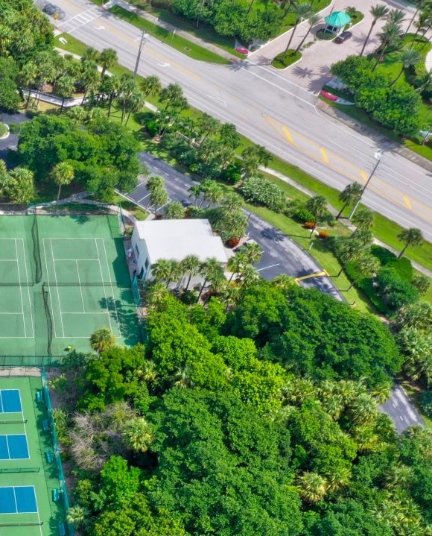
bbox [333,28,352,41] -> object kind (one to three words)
vehicle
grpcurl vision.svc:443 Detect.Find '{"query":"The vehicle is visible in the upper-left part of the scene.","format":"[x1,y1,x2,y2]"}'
[47,1,66,16]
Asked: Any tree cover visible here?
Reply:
Yes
